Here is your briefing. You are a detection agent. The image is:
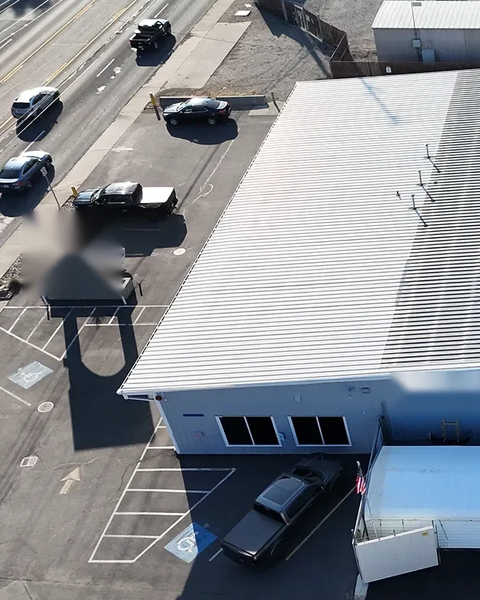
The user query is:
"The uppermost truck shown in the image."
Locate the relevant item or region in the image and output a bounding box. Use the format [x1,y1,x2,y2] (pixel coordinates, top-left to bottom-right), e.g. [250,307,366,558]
[124,11,177,47]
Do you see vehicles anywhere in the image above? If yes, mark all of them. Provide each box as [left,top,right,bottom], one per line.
[218,452,364,581]
[156,93,238,123]
[7,88,64,124]
[73,168,187,212]
[0,147,58,193]
[124,11,177,47]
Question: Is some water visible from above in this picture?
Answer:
No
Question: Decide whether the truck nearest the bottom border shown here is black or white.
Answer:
black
